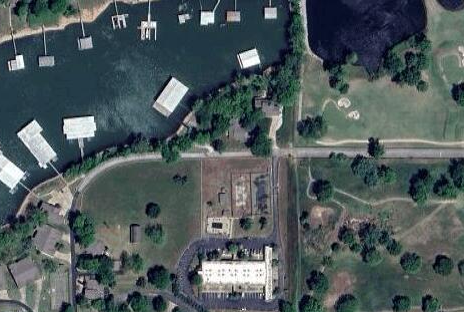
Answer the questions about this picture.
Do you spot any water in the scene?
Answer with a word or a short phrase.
Yes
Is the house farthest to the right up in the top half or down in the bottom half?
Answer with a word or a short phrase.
top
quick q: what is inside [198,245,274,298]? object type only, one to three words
building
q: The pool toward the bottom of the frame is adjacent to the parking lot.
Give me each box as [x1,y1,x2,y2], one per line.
[207,217,230,234]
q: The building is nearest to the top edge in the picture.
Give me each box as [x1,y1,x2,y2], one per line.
[258,99,282,118]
